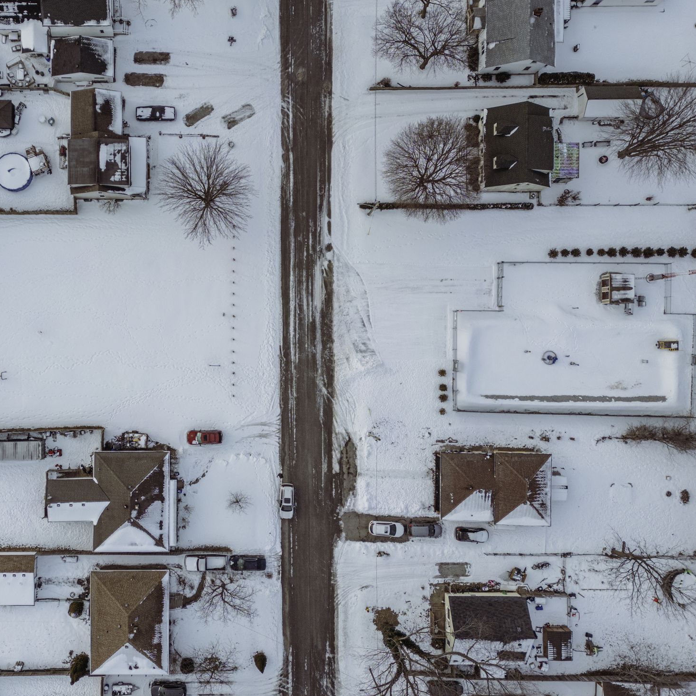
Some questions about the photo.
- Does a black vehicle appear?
Yes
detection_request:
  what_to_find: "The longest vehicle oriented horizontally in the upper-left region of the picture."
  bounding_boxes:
[136,101,175,121]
